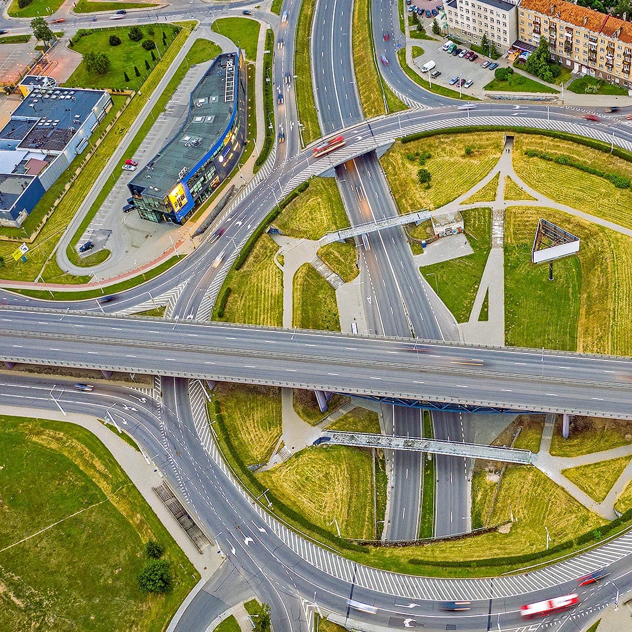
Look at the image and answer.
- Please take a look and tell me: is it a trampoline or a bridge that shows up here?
bridge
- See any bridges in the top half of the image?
Yes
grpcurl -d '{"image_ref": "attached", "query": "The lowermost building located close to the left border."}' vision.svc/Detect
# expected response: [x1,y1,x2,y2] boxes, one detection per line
[0,172,47,229]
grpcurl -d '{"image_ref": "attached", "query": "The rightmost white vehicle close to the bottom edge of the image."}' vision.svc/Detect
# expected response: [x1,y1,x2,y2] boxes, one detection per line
[523,592,575,618]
